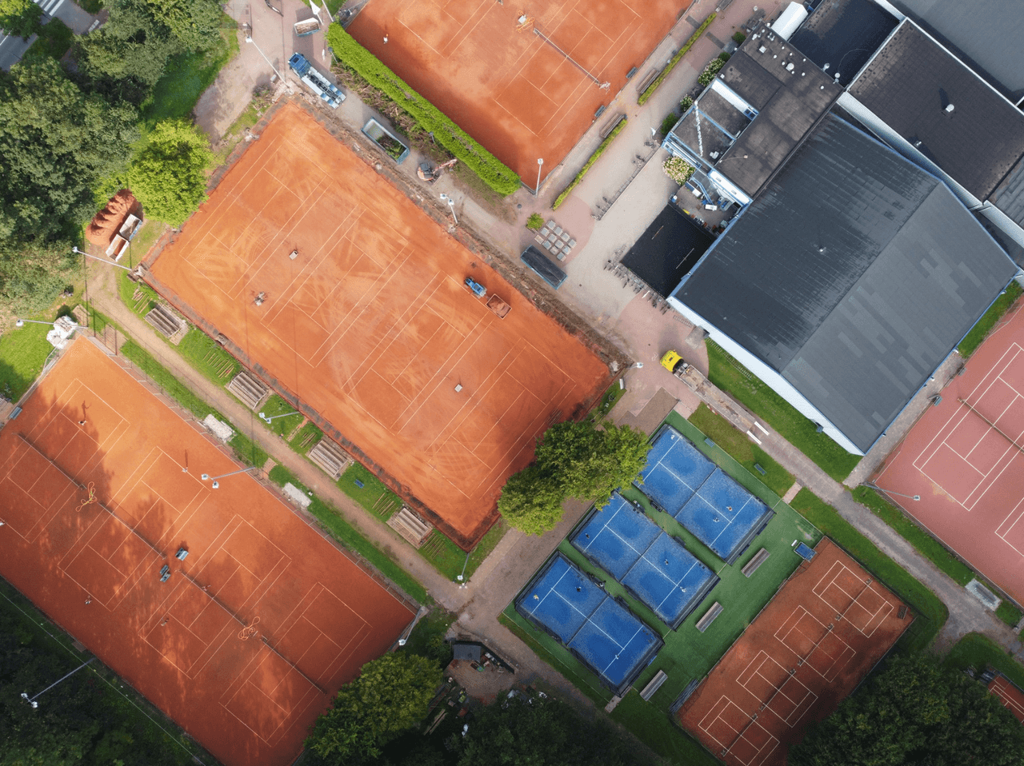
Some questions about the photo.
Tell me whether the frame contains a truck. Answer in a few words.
Yes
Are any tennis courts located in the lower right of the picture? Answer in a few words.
Yes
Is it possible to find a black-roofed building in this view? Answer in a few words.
Yes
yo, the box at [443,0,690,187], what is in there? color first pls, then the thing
orange tennis court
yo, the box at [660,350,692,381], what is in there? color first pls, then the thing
yellow truck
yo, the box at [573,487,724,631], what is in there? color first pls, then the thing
blue sports court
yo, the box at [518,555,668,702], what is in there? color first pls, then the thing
blue sports court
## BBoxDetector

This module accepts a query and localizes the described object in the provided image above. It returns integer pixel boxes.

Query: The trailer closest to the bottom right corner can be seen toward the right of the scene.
[682,365,767,442]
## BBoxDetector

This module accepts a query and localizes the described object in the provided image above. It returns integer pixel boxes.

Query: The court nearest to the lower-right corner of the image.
[980,676,1024,732]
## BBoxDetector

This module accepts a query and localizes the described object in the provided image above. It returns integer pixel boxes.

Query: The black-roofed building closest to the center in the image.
[617,202,718,300]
